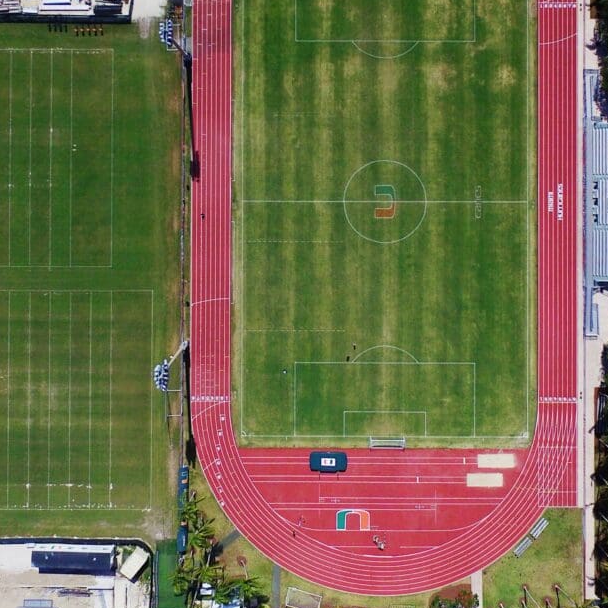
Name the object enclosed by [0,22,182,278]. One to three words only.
sports field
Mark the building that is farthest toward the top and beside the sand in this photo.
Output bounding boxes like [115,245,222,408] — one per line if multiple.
[31,542,117,569]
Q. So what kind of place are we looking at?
sports ground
